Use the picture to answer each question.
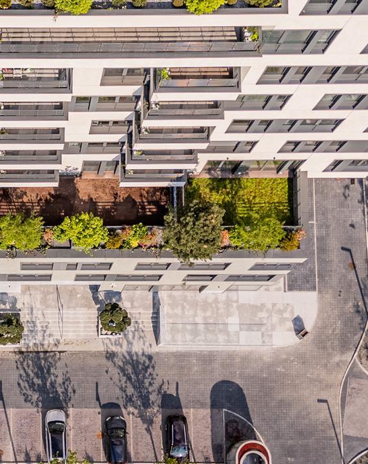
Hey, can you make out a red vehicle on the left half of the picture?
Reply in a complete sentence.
No, the scene shows no red vehicle on the left half of the picture.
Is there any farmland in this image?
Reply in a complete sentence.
No, no farmland is visible.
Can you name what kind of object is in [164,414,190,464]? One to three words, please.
car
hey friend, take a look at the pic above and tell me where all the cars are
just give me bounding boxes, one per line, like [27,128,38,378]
[43,411,68,463]
[164,414,190,464]
[104,416,128,464]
